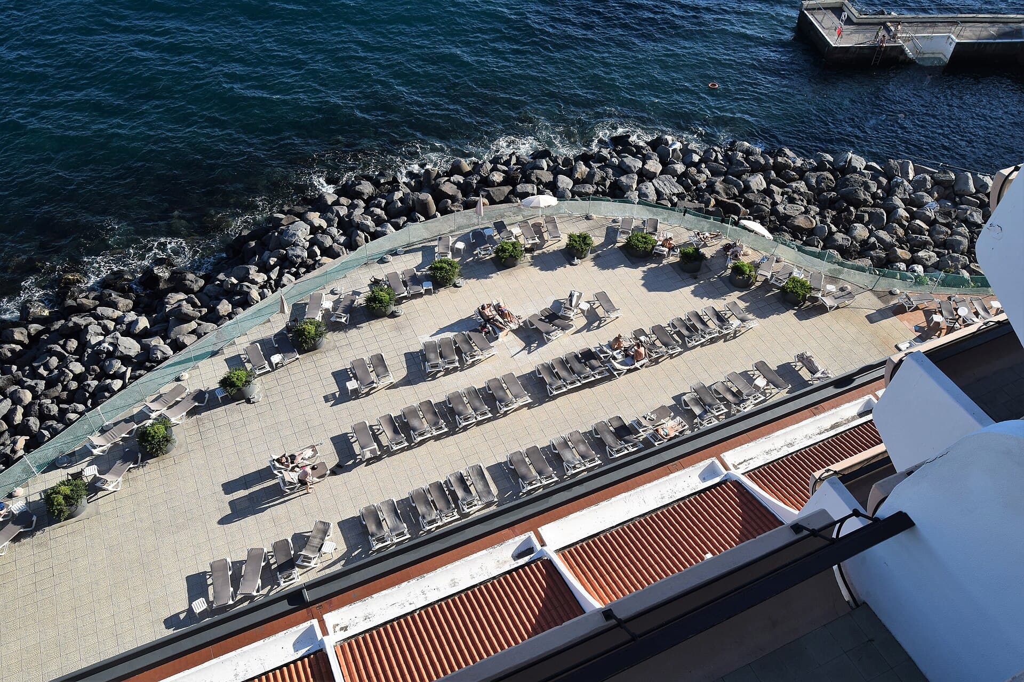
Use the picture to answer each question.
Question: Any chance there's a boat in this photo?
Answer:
No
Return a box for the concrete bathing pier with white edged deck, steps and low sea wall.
[790,0,1024,69]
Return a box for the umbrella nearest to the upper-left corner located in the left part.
[275,294,295,323]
